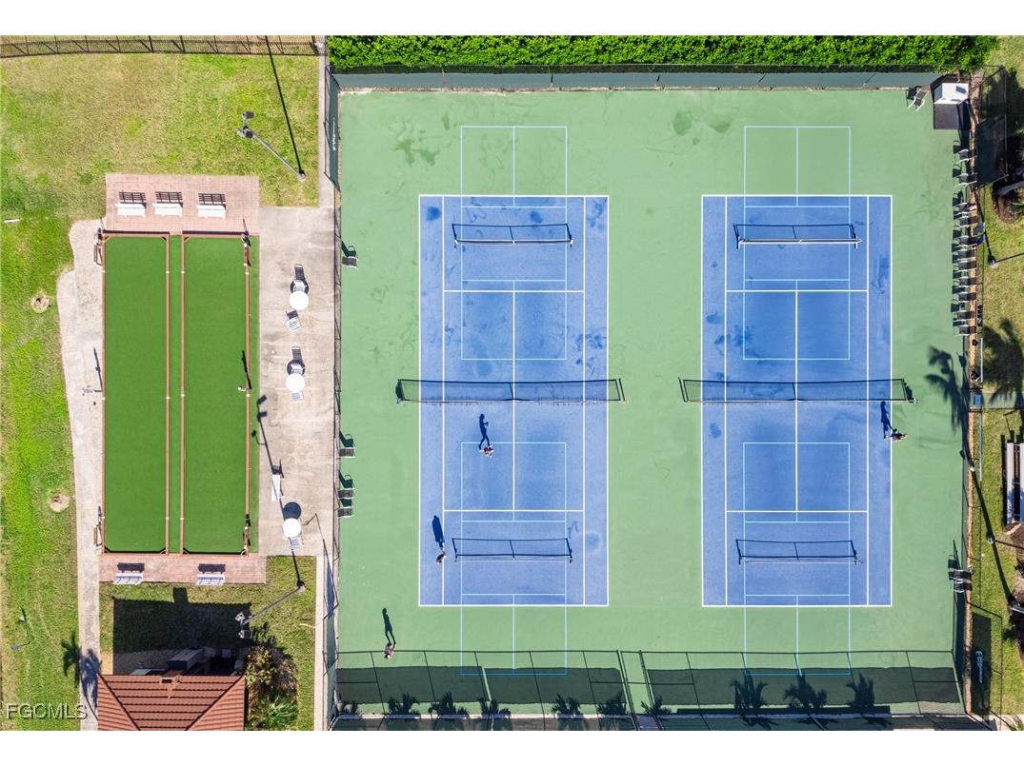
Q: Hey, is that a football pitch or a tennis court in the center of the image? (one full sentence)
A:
It is a tennis court that can be seen in the center of the image.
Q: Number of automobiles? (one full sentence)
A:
There are no automobiles in this view.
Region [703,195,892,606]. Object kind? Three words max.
tennis court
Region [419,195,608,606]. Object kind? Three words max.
tennis court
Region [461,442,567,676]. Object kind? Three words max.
sports court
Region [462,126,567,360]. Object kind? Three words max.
sports court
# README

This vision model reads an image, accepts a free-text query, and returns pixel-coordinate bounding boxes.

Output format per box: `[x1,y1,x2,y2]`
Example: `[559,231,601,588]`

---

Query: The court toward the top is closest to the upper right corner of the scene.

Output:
[745,126,851,360]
